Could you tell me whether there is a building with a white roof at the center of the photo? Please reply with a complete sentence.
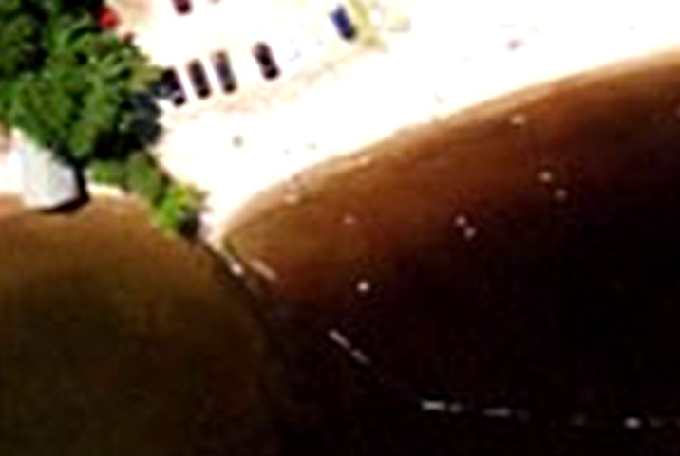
No, the scene shows no building with a white roof at the center of the photo.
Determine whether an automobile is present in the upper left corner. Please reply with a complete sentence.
Yes, an automobile appears in the upper left corner.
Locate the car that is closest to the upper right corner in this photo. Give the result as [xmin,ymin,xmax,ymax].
[329,1,355,43]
